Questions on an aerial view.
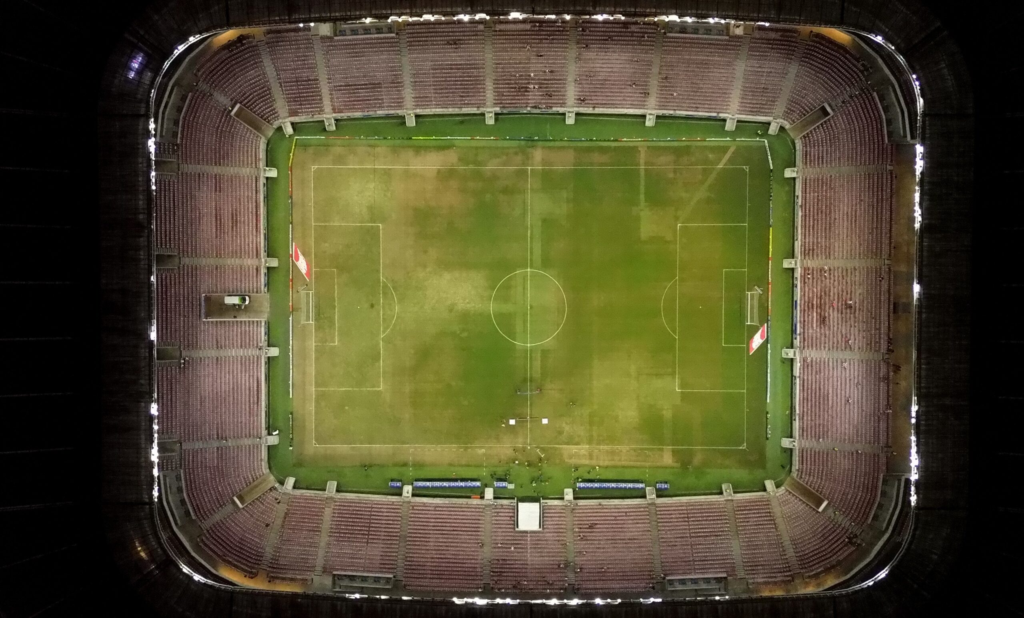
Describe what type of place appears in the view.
sports ground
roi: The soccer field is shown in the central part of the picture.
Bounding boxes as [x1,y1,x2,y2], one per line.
[292,145,769,480]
